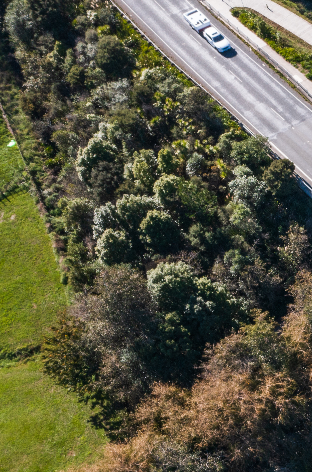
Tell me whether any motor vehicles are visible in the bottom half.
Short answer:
No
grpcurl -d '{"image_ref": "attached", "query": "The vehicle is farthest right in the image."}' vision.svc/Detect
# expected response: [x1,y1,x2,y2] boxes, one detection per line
[205,30,233,55]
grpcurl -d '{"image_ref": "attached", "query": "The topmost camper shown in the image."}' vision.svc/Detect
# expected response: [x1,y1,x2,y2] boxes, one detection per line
[183,8,214,36]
